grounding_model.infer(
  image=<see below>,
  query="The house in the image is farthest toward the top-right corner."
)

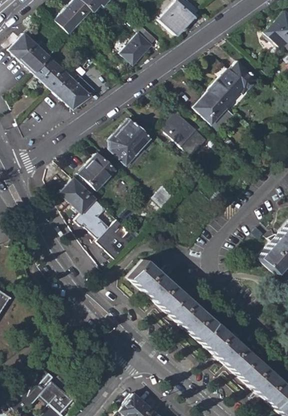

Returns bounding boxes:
[258,9,288,52]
